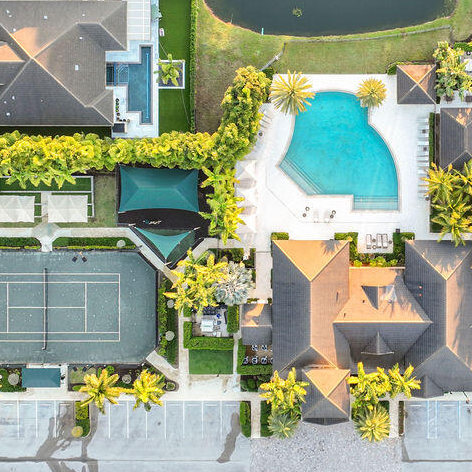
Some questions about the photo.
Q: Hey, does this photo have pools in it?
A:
Yes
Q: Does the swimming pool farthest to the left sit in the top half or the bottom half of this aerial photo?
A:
top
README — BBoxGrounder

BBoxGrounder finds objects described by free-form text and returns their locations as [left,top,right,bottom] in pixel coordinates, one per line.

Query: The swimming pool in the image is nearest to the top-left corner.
[109,45,152,125]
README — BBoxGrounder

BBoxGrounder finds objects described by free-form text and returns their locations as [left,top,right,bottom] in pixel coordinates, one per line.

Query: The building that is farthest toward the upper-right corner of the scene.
[396,64,436,104]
